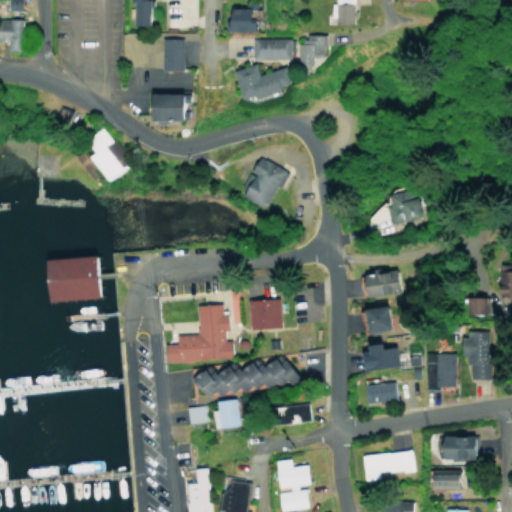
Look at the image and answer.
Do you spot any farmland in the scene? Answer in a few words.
No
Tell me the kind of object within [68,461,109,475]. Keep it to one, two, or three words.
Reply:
boat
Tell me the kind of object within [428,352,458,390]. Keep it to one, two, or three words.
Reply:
house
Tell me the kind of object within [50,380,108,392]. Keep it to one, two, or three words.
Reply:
pier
